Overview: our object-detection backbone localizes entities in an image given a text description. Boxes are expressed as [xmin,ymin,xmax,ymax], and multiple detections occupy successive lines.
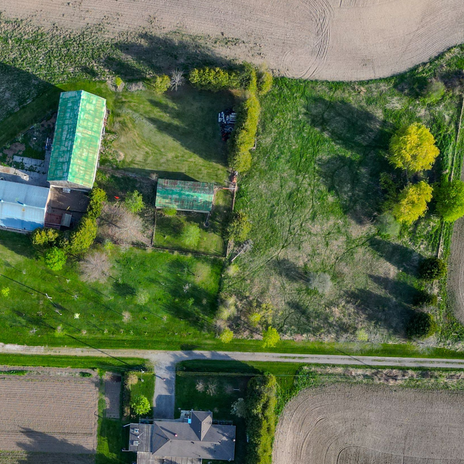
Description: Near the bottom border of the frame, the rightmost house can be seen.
[152,411,236,461]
